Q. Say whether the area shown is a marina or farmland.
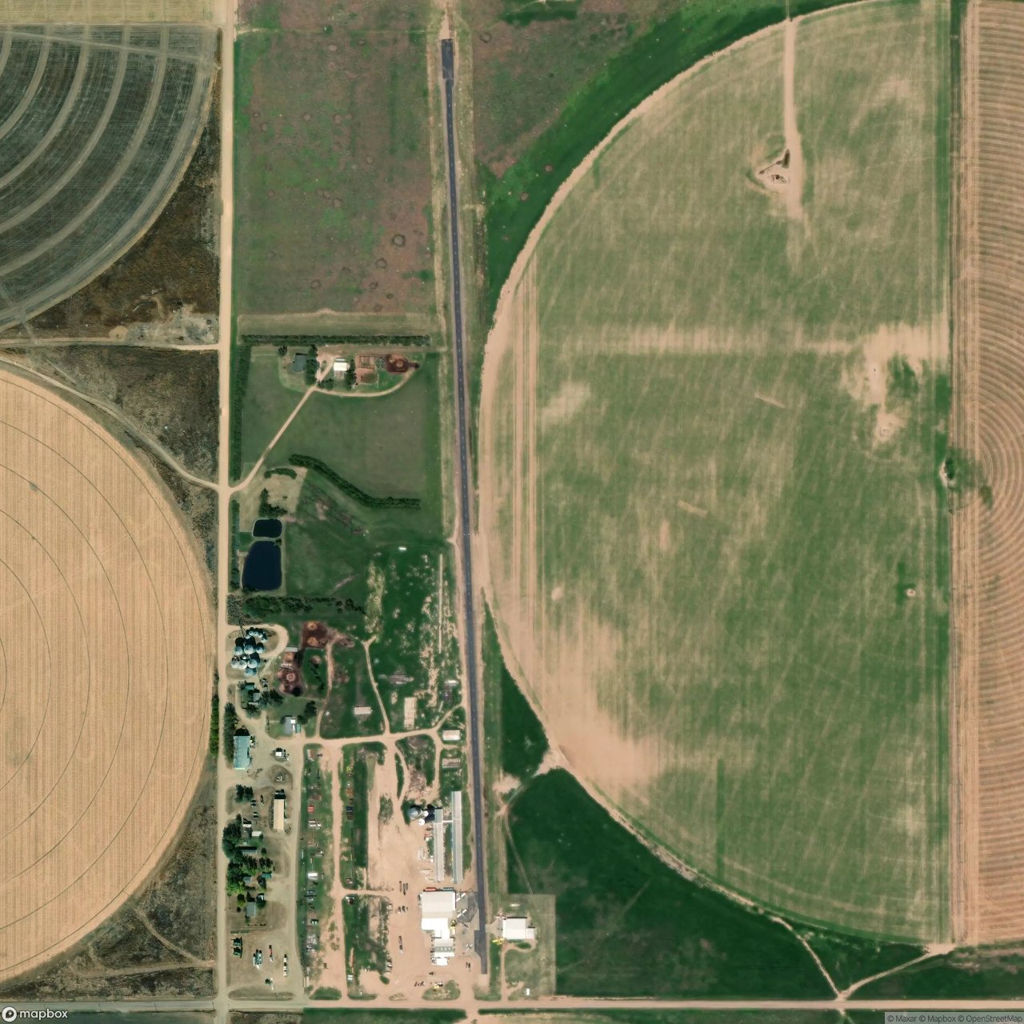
farmland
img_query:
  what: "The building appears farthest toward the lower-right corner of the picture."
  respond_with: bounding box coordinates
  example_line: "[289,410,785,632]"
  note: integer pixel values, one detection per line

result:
[503,919,534,939]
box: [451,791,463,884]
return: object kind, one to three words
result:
house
